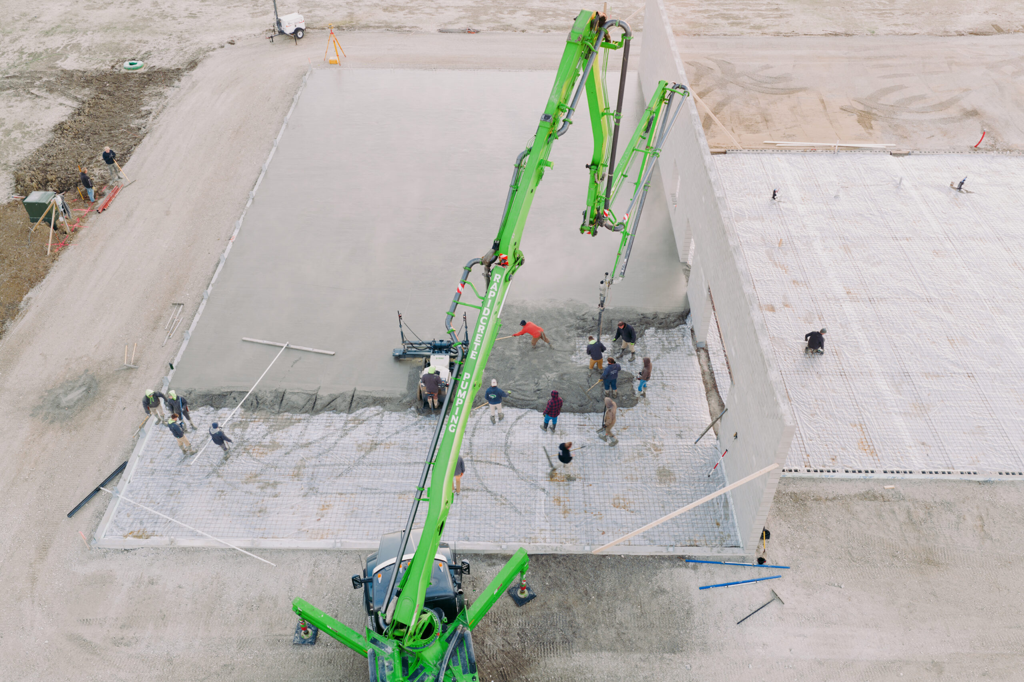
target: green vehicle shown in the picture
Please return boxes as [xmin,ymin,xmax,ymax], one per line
[290,3,689,682]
